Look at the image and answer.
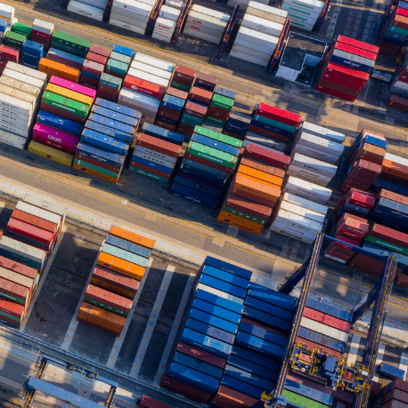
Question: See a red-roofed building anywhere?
No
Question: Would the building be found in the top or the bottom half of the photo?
top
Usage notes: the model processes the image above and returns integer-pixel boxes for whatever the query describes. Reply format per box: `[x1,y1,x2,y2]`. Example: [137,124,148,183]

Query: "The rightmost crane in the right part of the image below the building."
[246,221,405,408]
